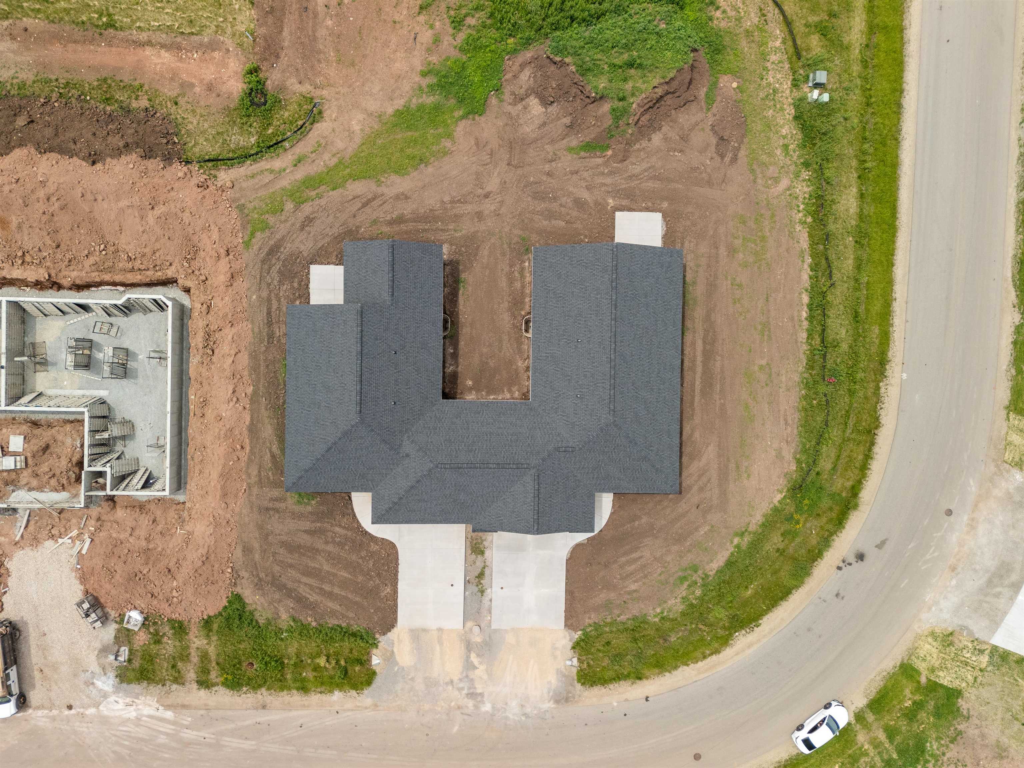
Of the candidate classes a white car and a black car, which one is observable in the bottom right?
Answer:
white car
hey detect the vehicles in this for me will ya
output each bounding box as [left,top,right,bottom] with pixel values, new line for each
[794,702,850,753]
[0,613,24,718]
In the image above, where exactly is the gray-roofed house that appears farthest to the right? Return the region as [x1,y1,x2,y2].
[284,240,683,536]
